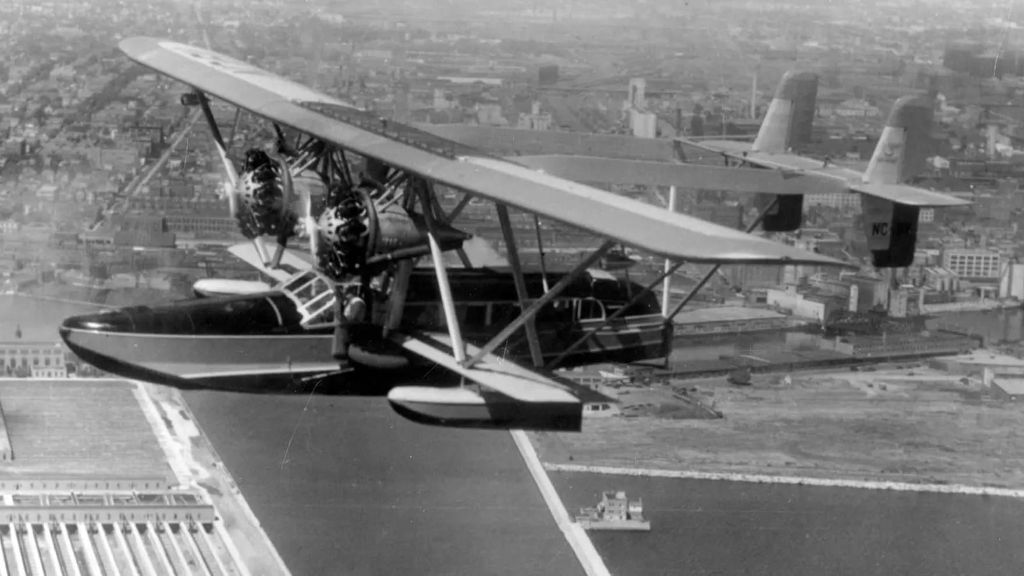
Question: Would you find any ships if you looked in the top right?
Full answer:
No, no ship can be made out in the top right.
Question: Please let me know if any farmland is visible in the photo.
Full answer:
No, the picture contains no farmland.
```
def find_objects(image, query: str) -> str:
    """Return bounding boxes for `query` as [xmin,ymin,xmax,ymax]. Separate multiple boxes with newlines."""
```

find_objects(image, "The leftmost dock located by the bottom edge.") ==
[510,429,613,576]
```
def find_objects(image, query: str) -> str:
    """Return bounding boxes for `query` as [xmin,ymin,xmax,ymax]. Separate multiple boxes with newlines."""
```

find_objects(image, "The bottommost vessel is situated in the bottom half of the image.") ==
[572,489,650,529]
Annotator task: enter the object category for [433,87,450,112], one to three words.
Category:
building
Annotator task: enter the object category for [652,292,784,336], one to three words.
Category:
shed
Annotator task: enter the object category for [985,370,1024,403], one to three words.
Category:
building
